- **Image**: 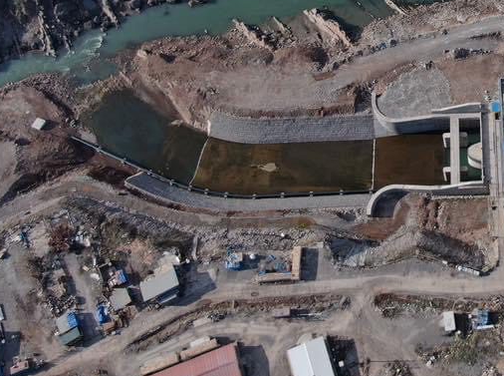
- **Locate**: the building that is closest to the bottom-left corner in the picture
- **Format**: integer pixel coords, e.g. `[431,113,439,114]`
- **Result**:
[58,312,89,345]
